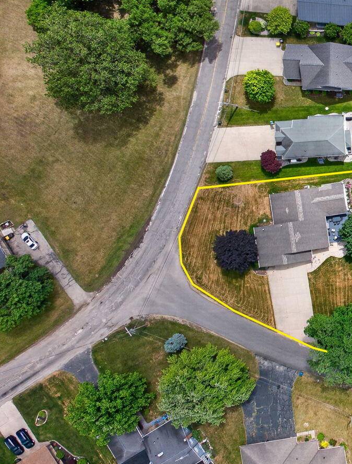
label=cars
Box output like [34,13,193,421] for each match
[21,230,39,251]
[3,434,23,457]
[15,426,34,449]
